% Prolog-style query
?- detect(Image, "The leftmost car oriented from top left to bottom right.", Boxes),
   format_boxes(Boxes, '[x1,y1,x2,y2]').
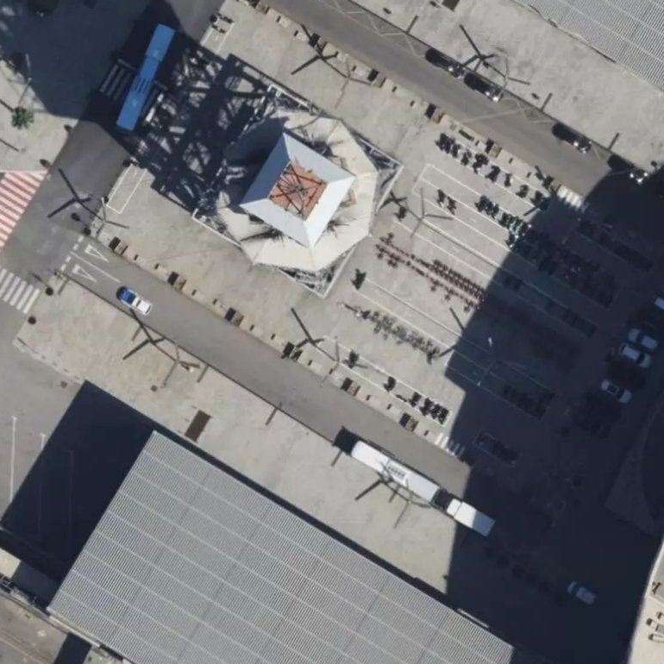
[117,286,153,315]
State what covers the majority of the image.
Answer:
paved ground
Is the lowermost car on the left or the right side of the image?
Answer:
right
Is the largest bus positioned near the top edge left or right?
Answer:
left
